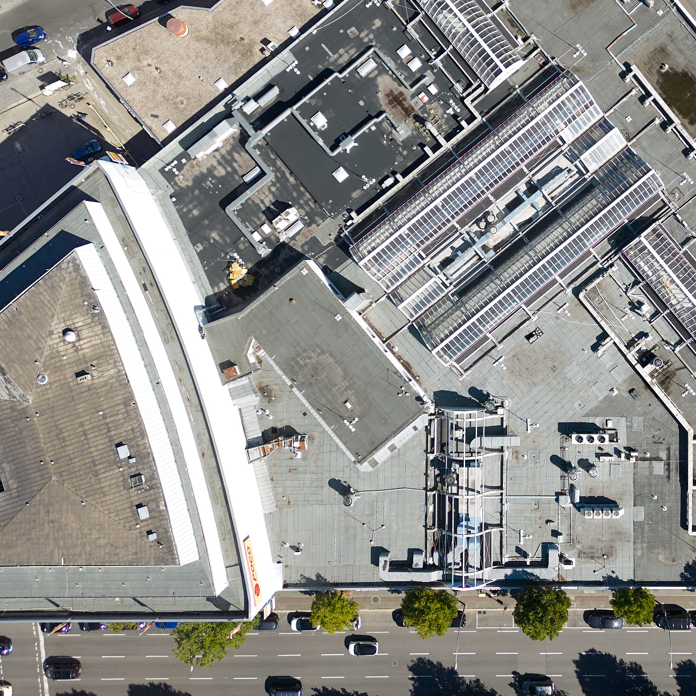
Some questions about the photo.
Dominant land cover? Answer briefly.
buildings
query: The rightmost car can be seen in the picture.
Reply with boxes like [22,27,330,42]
[656,614,691,631]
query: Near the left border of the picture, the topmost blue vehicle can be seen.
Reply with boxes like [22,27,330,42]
[13,25,46,48]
